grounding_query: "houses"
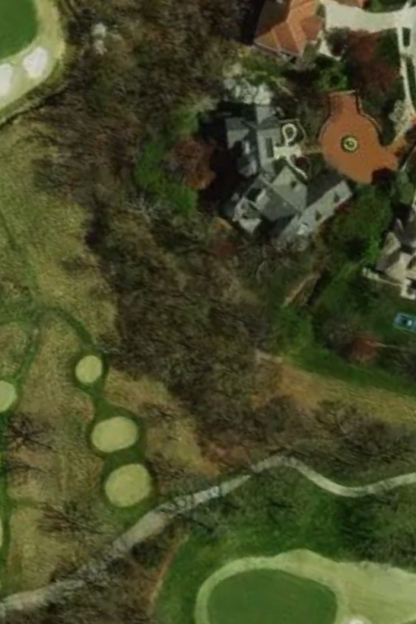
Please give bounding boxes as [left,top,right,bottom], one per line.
[225,107,355,242]
[254,0,367,62]
[370,206,416,292]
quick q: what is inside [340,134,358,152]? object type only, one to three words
fountain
